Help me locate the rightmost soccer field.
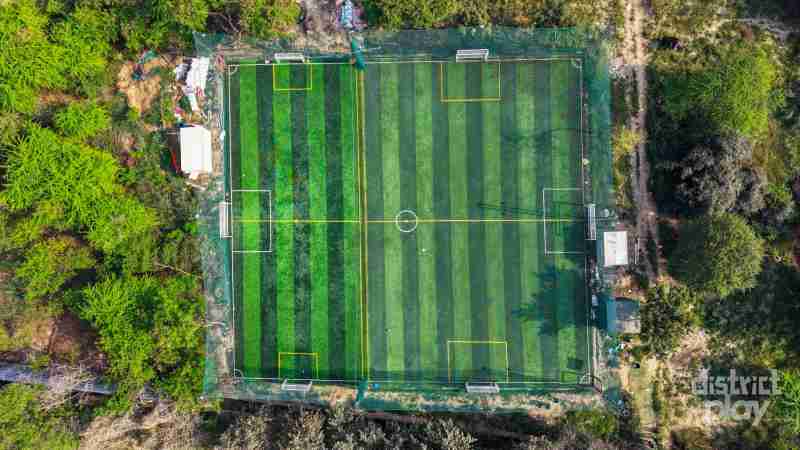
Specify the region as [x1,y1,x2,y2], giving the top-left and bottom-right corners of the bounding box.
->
[366,55,592,389]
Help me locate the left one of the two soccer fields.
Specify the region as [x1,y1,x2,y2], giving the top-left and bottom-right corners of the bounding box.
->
[226,58,372,385]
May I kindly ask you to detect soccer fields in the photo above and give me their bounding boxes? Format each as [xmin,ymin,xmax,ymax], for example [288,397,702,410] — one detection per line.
[366,55,592,389]
[226,58,372,385]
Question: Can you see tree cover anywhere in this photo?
Yes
